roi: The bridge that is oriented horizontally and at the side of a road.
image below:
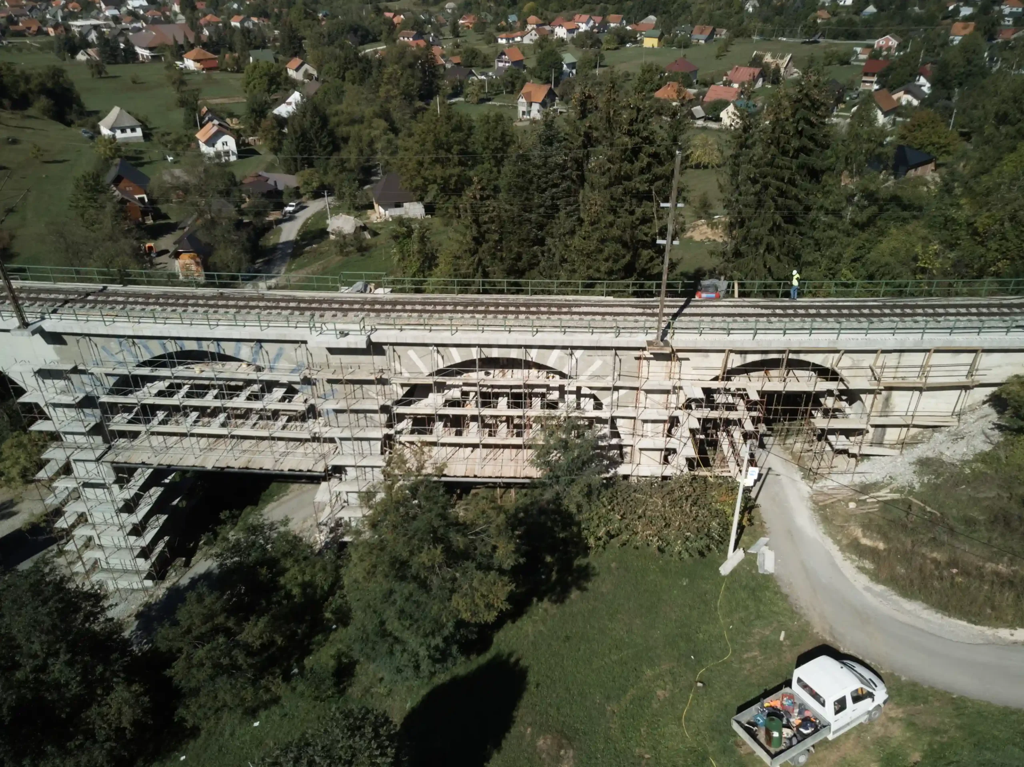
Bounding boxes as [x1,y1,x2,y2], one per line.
[0,276,1024,564]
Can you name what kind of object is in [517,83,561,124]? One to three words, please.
house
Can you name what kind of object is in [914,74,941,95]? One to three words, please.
house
